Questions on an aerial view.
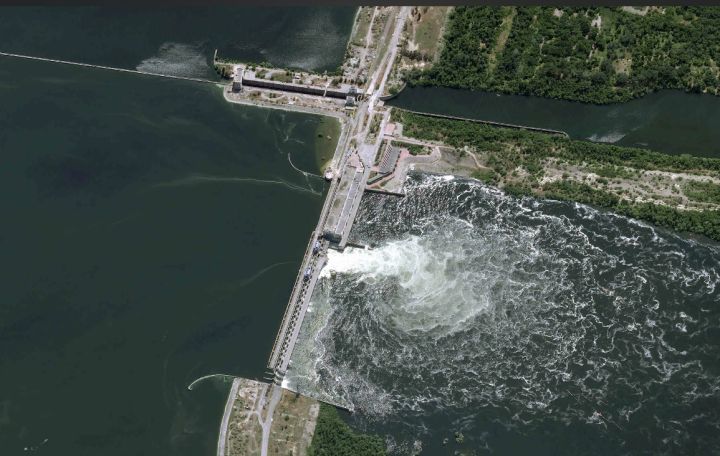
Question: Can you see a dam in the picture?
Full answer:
Yes, the image includes a dam.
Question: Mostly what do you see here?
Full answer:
Most of the picture is covered by water.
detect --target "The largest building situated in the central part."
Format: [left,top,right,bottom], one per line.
[314,169,367,249]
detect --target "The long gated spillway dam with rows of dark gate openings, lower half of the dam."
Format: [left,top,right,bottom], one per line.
[263,230,330,385]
